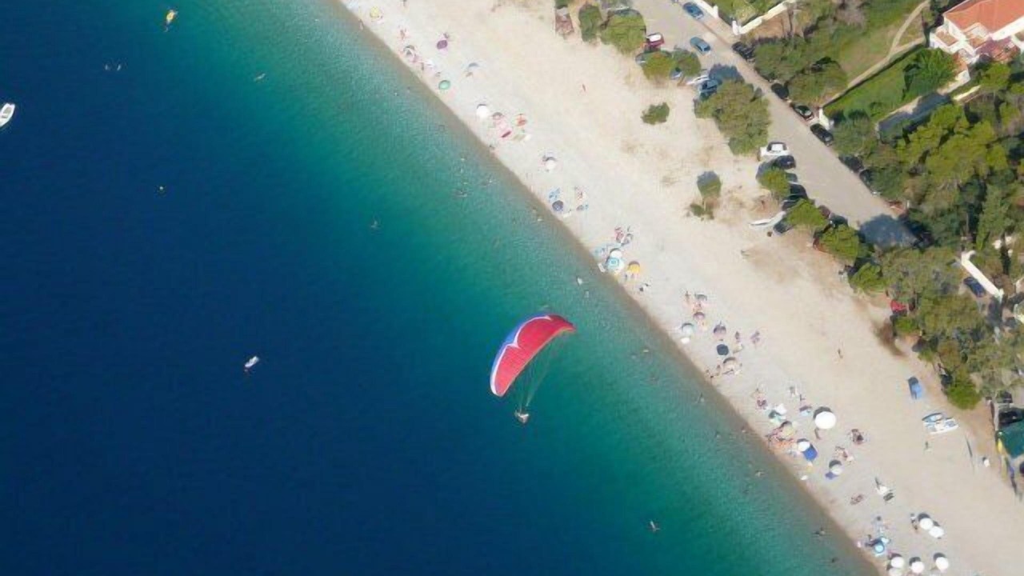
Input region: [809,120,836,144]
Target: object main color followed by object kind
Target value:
black car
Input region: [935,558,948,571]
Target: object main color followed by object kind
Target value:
white umbrella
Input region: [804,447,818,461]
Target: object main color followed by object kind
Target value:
blue umbrella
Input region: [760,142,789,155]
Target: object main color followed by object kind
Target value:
white vehicle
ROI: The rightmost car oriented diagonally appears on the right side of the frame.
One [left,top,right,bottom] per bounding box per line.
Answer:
[963,271,989,298]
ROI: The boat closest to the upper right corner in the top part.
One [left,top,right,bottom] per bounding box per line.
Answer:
[752,209,786,224]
